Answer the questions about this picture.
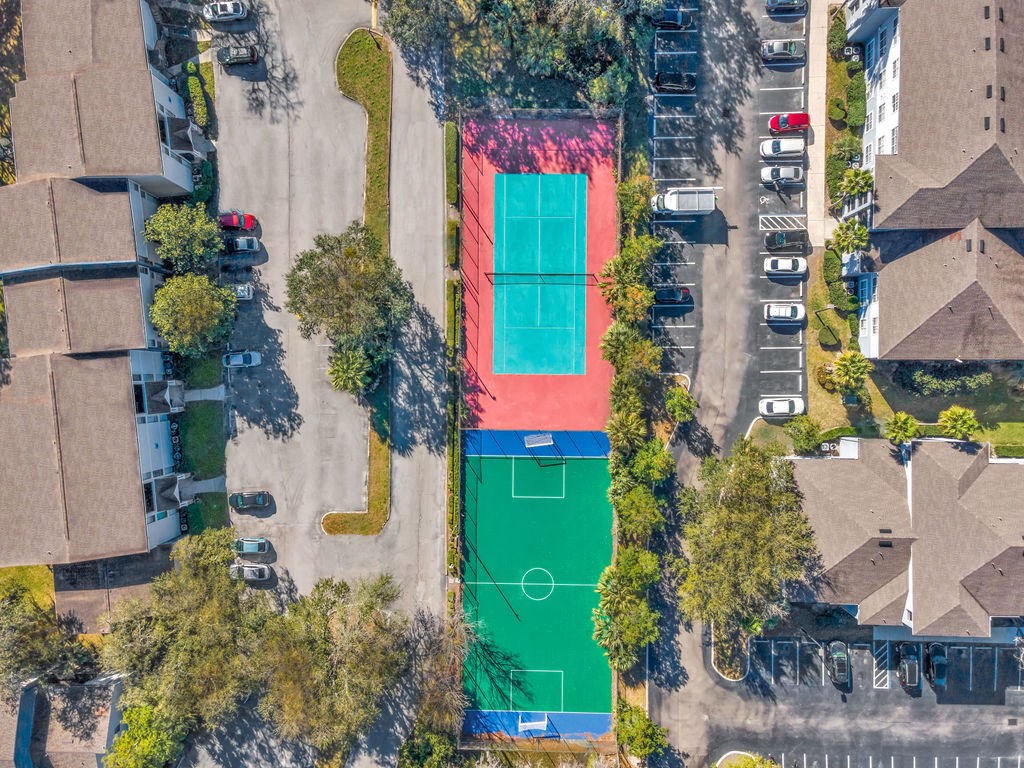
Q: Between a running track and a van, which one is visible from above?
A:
van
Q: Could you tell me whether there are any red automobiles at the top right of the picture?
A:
Yes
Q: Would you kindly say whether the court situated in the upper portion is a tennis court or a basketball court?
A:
tennis court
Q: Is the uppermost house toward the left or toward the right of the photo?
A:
left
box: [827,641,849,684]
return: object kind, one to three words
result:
car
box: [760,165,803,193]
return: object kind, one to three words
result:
car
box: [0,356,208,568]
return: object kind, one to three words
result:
house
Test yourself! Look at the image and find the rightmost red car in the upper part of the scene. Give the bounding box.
[768,112,811,134]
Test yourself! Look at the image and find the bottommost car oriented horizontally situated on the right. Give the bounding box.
[760,397,801,417]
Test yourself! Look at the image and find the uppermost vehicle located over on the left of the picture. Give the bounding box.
[204,0,247,22]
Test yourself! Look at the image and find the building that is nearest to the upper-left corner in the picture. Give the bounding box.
[23,0,159,82]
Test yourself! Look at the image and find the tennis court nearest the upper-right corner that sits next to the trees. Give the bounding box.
[461,108,616,431]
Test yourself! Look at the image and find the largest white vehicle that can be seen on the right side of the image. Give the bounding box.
[652,185,725,213]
